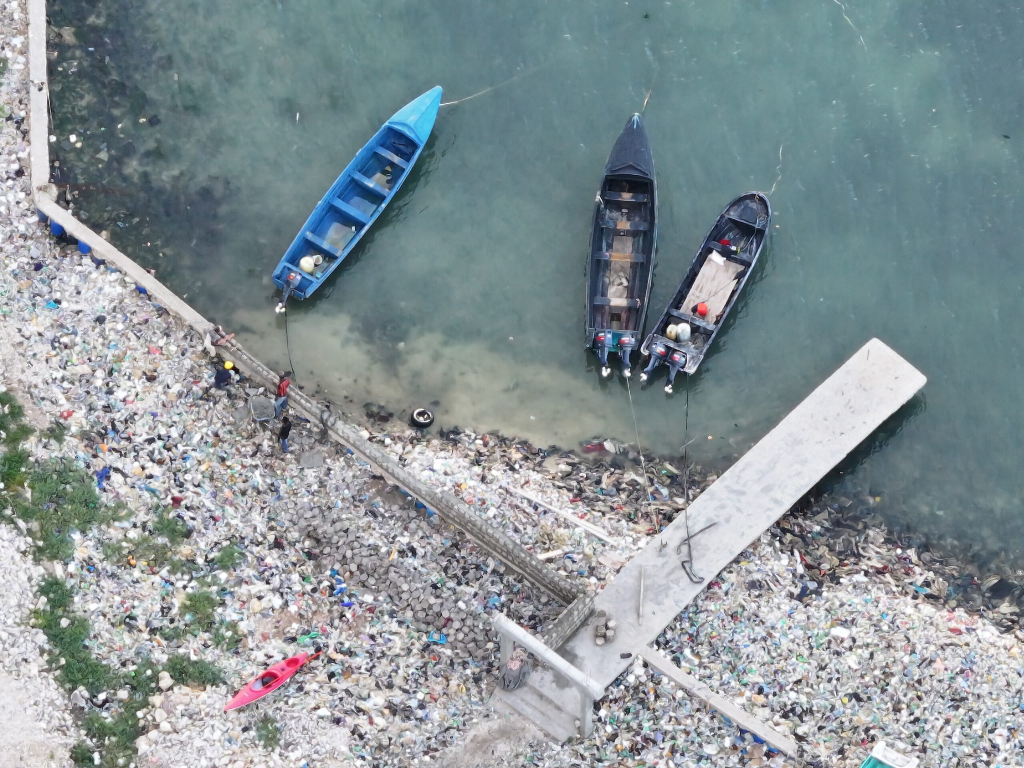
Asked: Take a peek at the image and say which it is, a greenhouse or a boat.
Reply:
boat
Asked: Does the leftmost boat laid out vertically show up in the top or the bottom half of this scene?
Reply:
top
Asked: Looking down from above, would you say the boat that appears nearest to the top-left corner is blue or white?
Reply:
blue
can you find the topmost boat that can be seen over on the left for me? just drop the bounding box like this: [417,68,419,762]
[270,84,446,323]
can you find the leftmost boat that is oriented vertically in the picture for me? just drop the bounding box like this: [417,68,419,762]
[586,112,656,384]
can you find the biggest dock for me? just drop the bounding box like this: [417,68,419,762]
[522,340,926,721]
